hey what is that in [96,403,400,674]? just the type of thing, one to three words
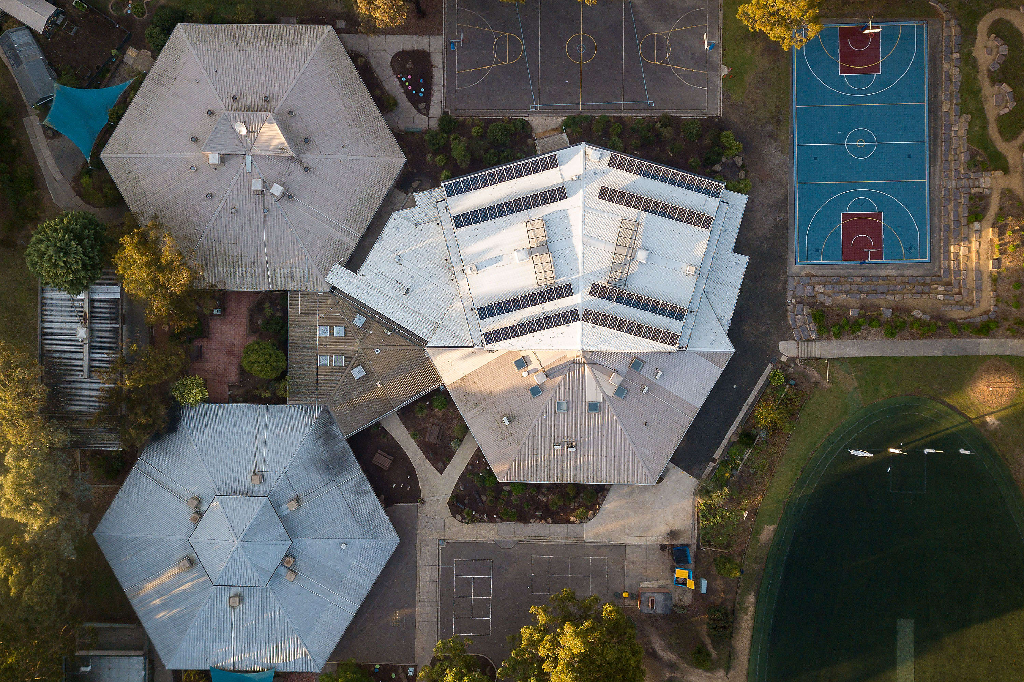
building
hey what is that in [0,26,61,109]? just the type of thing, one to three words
shed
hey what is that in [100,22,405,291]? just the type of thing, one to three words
building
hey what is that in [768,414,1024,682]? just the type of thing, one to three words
sports field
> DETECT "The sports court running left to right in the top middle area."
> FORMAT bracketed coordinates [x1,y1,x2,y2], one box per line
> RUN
[446,0,718,114]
